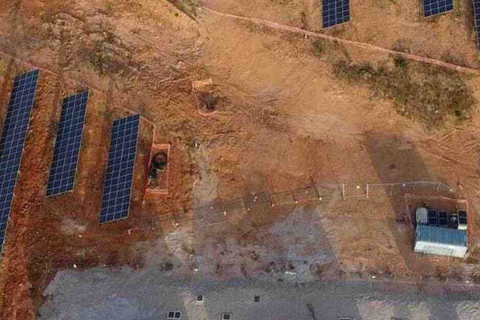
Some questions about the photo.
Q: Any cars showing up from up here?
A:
No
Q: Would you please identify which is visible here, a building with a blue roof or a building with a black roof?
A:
building with a blue roof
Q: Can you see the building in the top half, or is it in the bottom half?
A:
bottom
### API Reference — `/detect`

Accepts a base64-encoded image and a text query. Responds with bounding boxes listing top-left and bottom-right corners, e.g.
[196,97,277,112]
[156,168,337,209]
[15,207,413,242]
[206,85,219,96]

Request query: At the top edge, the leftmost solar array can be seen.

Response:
[322,0,352,29]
